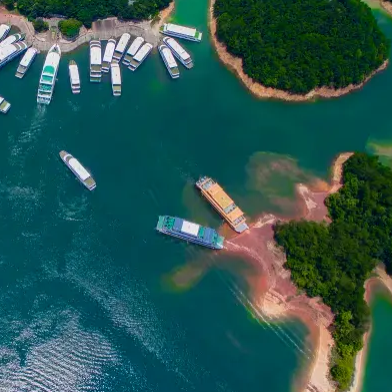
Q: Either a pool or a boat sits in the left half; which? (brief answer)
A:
boat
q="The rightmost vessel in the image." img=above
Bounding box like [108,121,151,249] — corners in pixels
[196,176,248,233]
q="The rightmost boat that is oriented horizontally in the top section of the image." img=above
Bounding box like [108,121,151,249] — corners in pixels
[159,27,201,44]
